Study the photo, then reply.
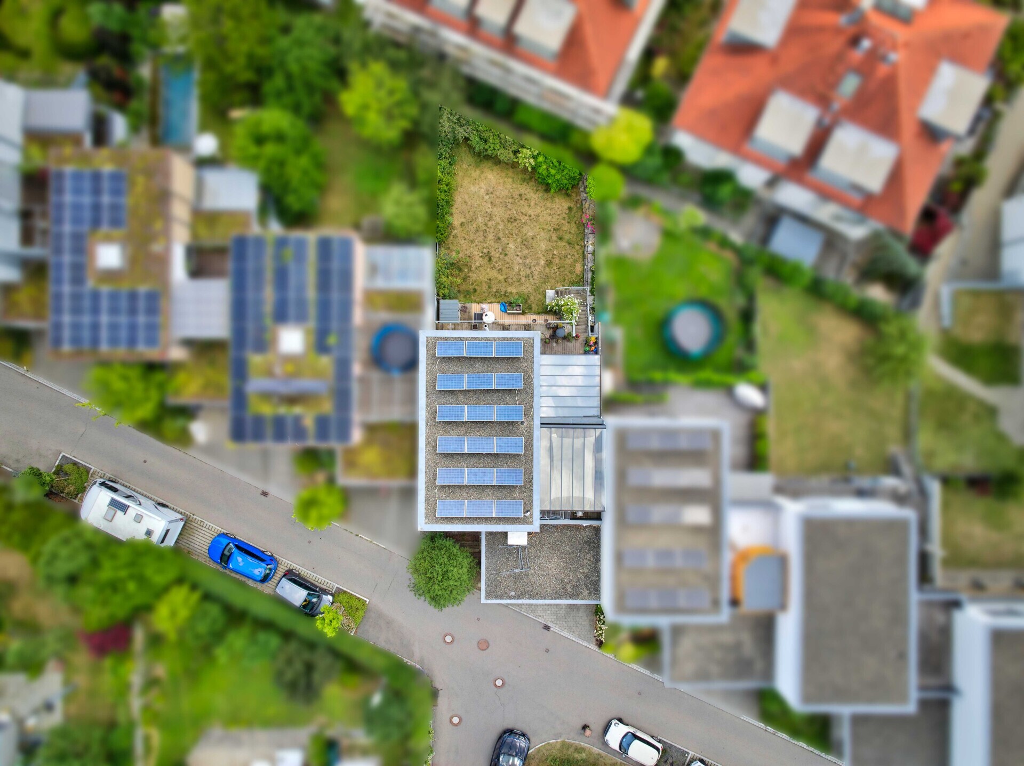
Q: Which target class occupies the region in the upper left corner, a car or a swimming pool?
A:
swimming pool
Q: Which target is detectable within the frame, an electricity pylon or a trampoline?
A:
trampoline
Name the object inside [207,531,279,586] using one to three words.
car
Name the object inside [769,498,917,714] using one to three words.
house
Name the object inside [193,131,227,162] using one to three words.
umbrella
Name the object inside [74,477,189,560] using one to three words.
camper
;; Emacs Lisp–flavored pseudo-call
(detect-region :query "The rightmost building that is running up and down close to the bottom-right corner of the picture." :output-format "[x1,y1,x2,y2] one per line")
[934,586,1024,766]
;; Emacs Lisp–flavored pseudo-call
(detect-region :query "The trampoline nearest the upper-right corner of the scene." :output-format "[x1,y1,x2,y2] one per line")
[664,298,730,357]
